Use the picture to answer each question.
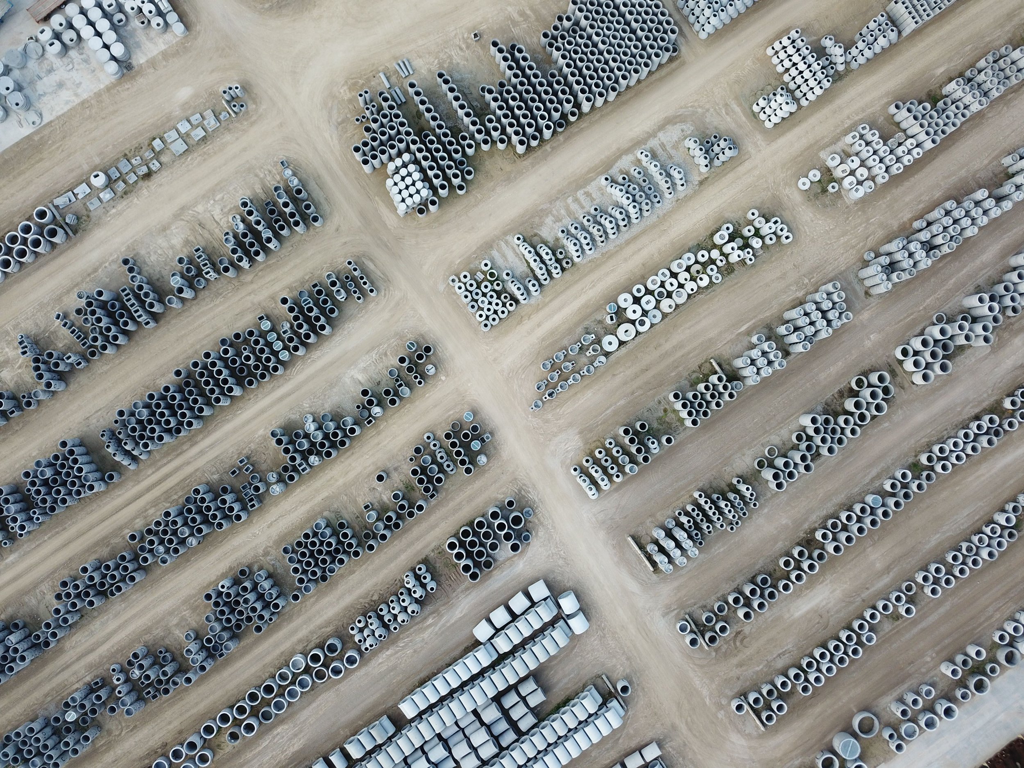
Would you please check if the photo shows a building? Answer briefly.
No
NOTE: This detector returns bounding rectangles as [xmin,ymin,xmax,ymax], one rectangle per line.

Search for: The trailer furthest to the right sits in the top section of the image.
[26,0,81,27]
